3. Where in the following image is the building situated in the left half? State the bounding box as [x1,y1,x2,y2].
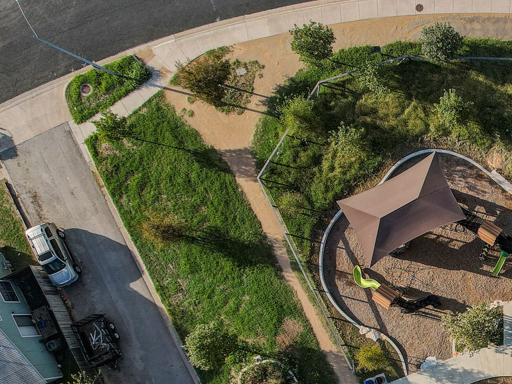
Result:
[0,241,63,384]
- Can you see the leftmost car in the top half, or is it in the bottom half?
bottom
